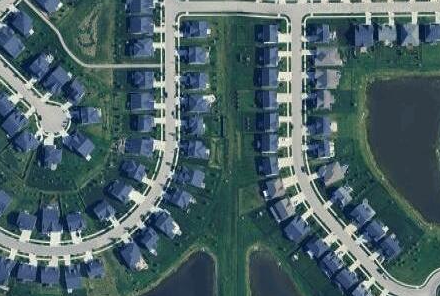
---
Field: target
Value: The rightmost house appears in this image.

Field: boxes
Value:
[424,22,440,47]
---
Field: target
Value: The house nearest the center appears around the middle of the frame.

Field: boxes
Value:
[189,140,214,158]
